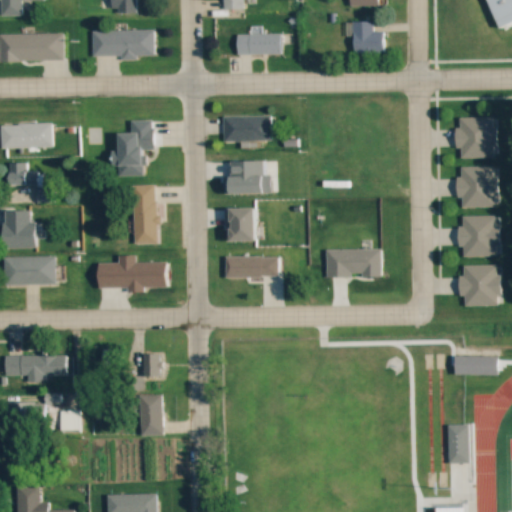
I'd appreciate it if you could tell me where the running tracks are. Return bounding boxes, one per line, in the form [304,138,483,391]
[476,370,512,512]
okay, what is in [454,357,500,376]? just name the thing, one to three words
building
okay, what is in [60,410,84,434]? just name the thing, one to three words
building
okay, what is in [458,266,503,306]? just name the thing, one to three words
house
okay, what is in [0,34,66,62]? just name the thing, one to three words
house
